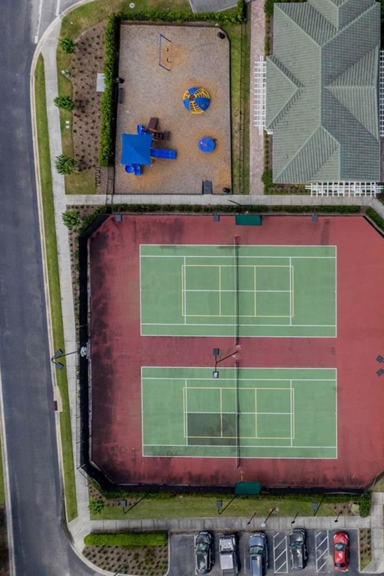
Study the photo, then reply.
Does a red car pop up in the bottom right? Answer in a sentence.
Yes, a red car can be seen in the bottom right.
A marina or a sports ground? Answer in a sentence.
The area seen from above is a sports ground.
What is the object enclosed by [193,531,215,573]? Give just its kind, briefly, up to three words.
car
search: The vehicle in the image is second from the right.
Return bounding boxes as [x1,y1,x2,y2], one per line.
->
[287,527,309,569]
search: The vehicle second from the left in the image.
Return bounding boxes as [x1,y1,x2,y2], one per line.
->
[218,531,239,576]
